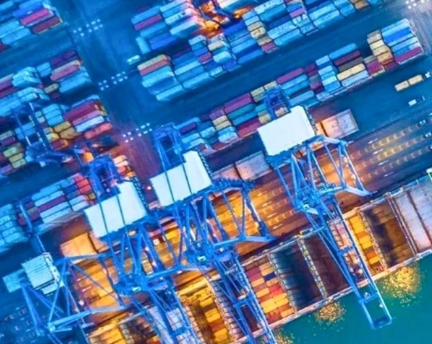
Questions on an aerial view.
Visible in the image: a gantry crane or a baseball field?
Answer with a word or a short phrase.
gantry crane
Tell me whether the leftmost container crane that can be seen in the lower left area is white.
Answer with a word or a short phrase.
No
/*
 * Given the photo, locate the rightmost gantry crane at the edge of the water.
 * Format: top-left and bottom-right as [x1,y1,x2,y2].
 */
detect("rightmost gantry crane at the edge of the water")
[248,75,390,332]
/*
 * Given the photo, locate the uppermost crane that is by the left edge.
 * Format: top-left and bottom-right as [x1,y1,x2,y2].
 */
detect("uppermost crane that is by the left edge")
[11,100,79,166]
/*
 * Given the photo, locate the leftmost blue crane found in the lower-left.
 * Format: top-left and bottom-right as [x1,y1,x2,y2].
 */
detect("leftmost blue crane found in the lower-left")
[0,194,141,344]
